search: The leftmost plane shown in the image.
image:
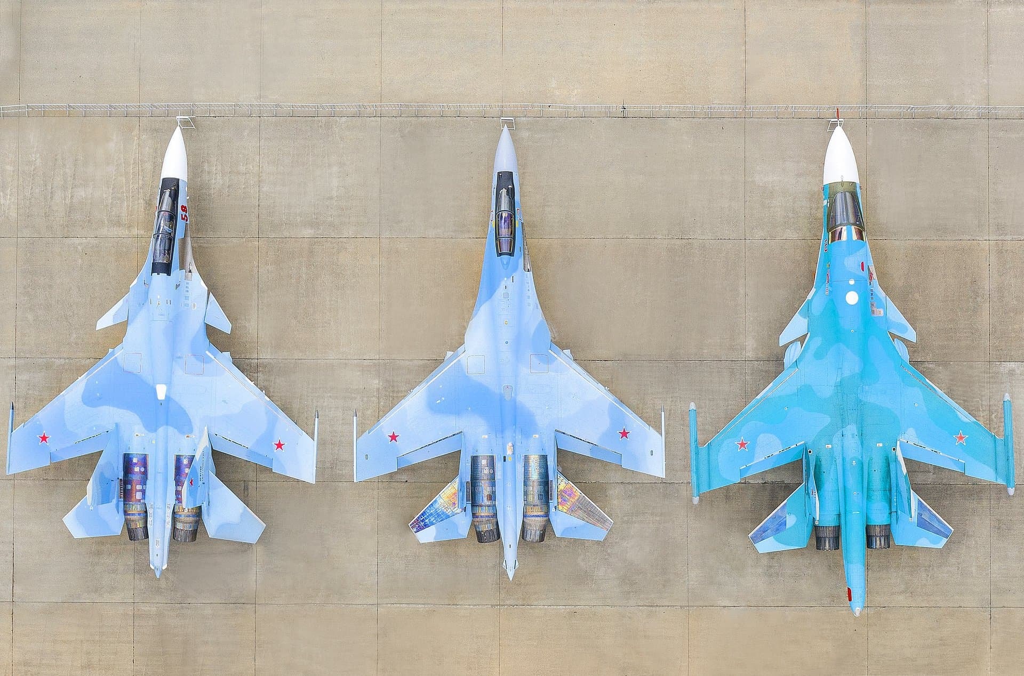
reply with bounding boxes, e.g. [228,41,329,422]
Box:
[6,111,319,578]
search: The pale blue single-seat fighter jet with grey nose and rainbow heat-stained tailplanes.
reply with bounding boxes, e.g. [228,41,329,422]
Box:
[353,125,665,580]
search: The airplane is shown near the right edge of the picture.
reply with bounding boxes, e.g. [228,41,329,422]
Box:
[689,108,1015,617]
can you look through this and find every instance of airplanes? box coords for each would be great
[6,111,319,578]
[689,108,1015,617]
[353,125,665,580]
